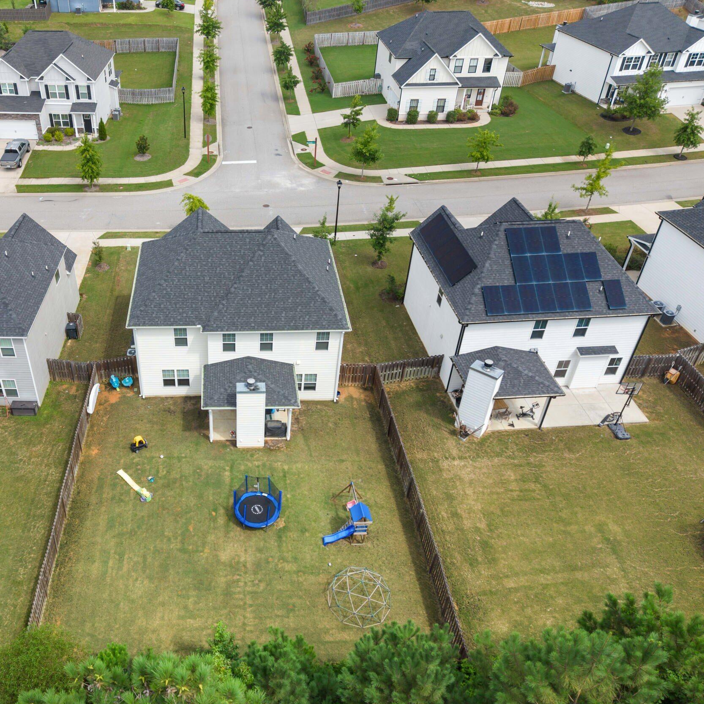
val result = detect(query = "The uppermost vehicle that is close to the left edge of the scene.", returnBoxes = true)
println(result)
[2,143,28,165]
